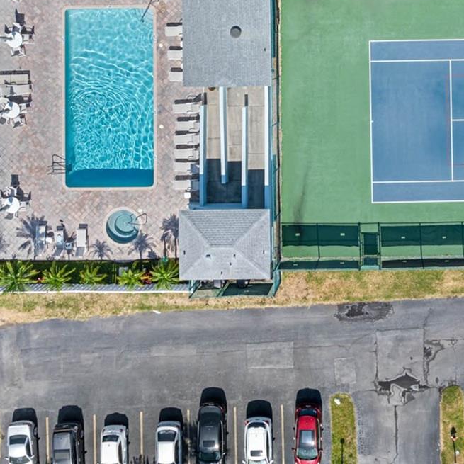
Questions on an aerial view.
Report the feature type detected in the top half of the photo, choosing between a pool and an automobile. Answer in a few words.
pool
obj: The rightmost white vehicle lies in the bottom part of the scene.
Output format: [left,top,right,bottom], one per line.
[244,416,275,464]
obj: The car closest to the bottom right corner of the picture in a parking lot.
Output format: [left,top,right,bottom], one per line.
[290,405,324,464]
